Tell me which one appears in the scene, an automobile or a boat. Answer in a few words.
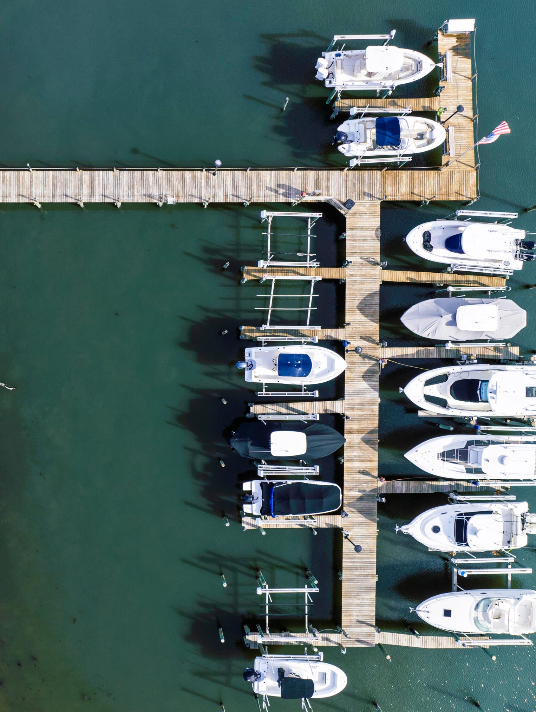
boat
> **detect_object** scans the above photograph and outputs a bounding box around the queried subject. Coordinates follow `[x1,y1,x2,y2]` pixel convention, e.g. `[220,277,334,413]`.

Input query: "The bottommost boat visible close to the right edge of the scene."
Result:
[409,588,536,636]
